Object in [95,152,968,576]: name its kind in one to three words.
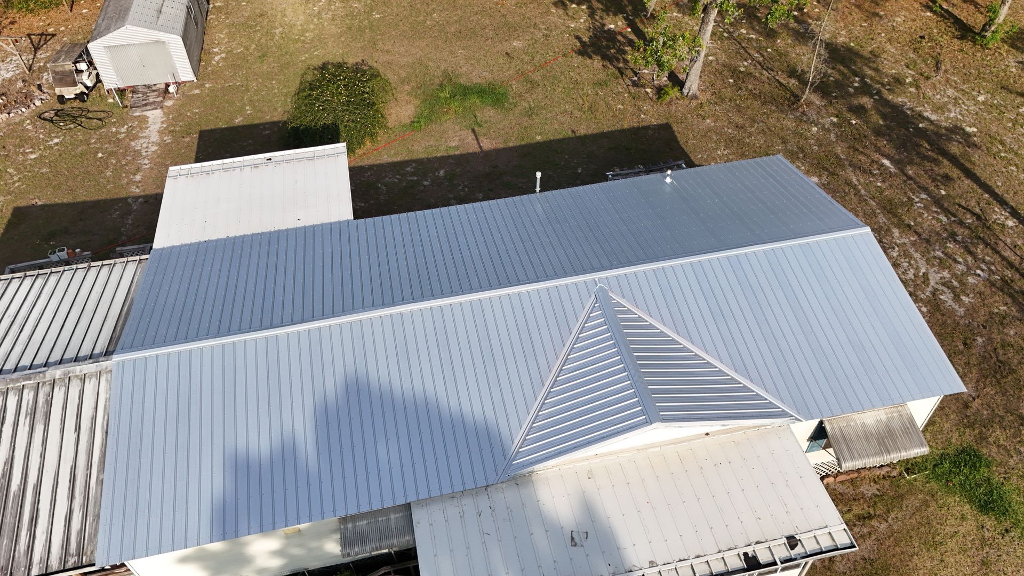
house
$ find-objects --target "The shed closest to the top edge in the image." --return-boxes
[84,0,214,88]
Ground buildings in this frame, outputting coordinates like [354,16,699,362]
[95,152,968,576]
[84,0,214,88]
